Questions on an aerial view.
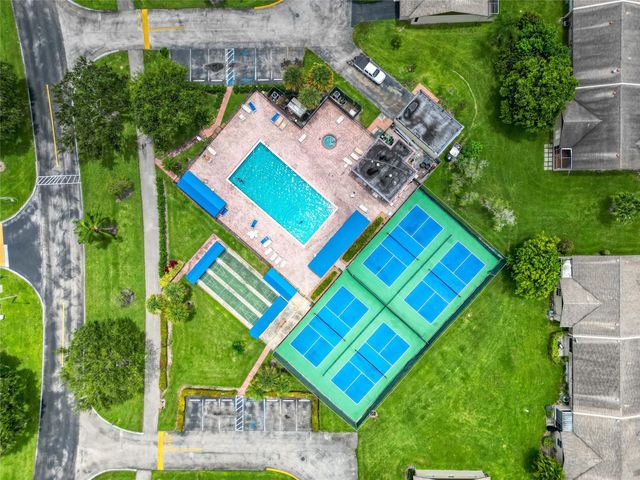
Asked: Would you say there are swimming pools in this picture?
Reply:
Yes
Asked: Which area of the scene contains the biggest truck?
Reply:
top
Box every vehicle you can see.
[445,144,462,161]
[352,53,386,85]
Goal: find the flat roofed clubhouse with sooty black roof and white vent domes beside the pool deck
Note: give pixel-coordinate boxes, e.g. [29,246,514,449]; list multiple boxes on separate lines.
[352,139,417,203]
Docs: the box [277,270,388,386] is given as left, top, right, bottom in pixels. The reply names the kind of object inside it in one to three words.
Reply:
sports court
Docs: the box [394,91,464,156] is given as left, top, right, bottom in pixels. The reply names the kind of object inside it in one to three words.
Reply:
building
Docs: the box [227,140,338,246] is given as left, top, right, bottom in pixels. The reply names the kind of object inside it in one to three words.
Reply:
swimming pool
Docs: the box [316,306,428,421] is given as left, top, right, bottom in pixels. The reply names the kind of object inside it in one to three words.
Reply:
sports court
